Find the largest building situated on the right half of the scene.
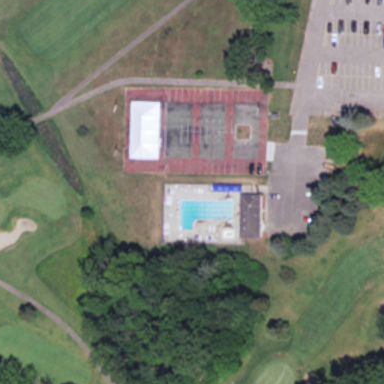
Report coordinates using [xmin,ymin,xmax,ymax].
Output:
[240,194,263,238]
